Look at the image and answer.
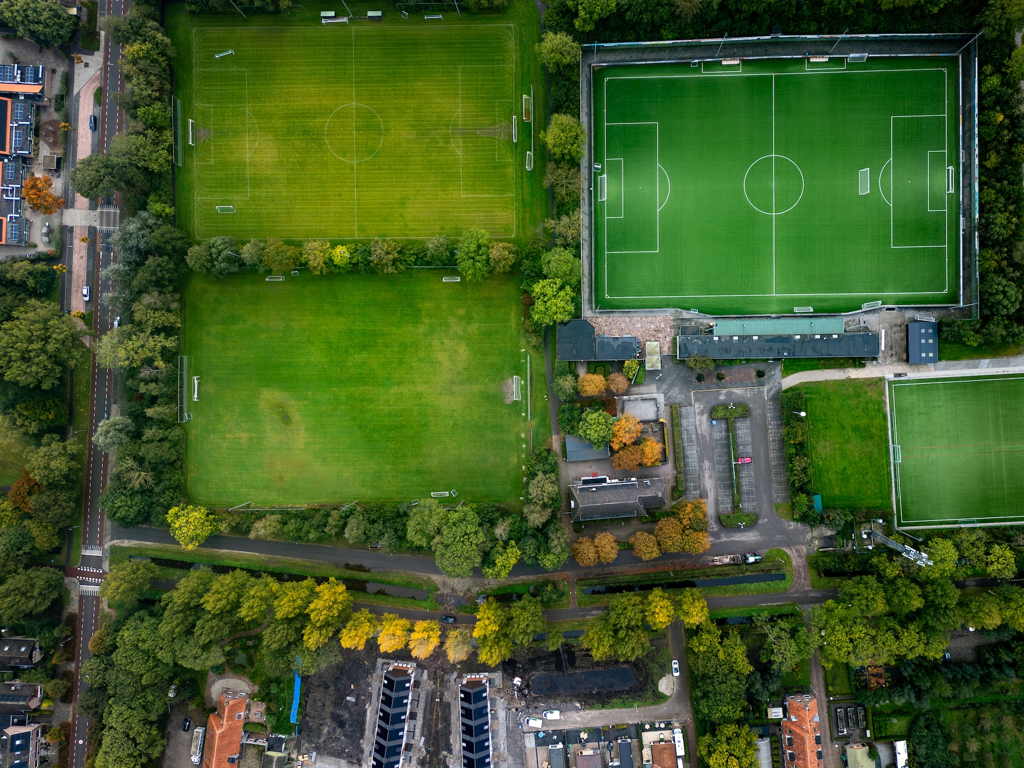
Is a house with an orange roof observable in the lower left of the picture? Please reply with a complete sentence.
Yes, a house with an orange roof shows up in the lower left of the picture.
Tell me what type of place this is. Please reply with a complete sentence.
This looks like a sports ground.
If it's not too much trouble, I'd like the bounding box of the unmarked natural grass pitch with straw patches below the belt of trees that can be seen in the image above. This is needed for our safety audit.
[183,267,553,512]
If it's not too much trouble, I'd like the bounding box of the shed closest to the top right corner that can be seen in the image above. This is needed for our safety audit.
[903,322,938,363]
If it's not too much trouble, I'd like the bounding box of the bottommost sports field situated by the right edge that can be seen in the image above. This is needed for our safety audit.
[889,371,1024,527]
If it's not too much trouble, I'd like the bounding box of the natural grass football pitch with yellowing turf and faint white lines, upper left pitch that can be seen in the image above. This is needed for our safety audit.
[165,0,546,245]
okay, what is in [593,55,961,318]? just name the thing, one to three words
soccer field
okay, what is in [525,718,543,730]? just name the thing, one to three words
vehicle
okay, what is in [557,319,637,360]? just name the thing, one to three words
building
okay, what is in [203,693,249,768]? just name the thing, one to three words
house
